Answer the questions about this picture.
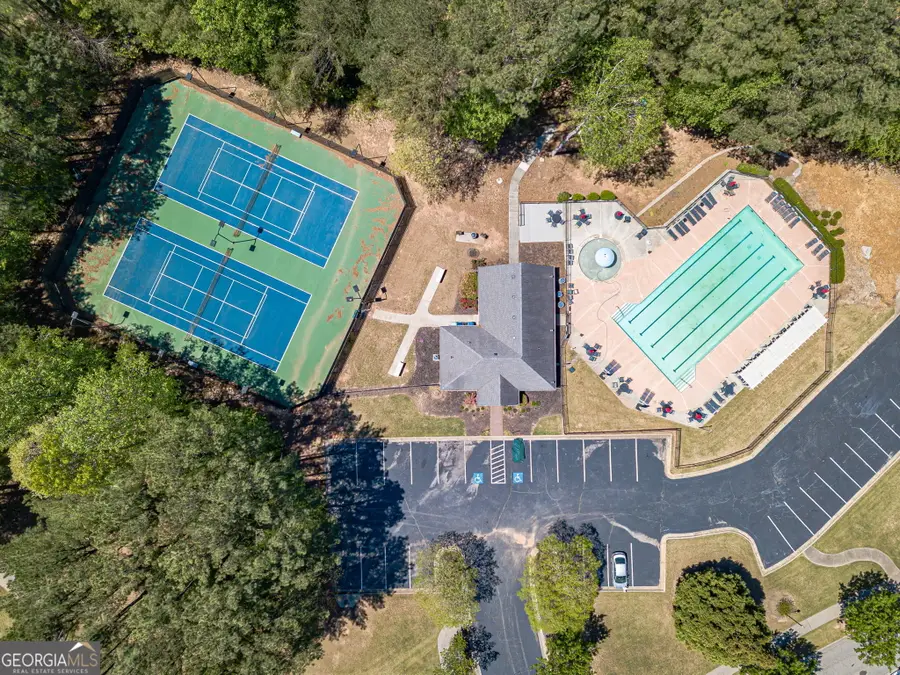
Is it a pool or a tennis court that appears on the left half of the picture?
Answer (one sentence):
There is a tennis court on the left half of the picture.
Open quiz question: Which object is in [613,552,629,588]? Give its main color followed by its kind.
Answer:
white car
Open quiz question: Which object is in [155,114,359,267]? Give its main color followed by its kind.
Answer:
blue tennis court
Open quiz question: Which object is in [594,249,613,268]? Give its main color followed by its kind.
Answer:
white fountain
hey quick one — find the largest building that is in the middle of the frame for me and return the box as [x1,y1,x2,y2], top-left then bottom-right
[439,264,555,408]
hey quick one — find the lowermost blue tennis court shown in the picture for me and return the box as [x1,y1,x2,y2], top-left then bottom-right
[105,217,311,373]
